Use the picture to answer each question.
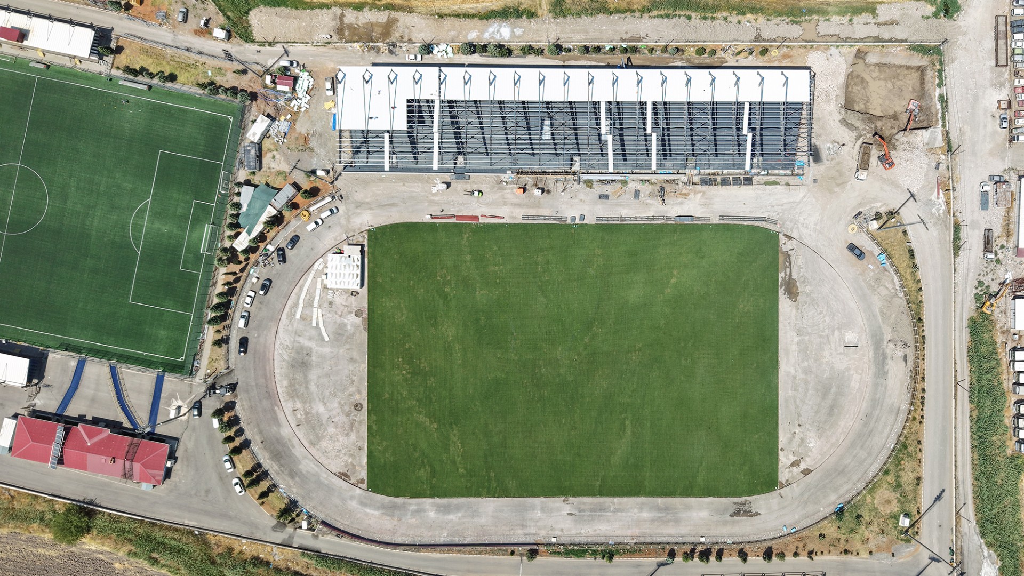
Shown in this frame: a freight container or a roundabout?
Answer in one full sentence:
Of the two, only a freight container appears.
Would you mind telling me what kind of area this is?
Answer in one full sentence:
What you see here is a sports ground.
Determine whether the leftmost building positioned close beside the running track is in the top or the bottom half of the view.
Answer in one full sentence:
The bottom half of the photo is where the leftmost building positioned close beside the running track is.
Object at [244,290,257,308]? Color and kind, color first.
white vehicle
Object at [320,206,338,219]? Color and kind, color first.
white vehicle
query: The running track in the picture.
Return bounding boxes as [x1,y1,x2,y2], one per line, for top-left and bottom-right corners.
[226,192,916,545]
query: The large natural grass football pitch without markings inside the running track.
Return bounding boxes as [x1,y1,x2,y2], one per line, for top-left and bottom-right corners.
[366,224,780,497]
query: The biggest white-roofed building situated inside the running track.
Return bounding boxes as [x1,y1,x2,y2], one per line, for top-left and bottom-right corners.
[328,254,363,289]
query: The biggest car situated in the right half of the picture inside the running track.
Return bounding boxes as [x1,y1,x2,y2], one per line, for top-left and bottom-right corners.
[846,243,865,259]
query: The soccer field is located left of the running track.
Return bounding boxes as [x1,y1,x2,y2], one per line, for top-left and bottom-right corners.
[0,56,243,375]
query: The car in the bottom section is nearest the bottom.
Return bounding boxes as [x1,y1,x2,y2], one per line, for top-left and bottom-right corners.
[233,477,246,495]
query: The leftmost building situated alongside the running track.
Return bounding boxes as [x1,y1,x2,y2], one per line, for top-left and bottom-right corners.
[0,415,172,486]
